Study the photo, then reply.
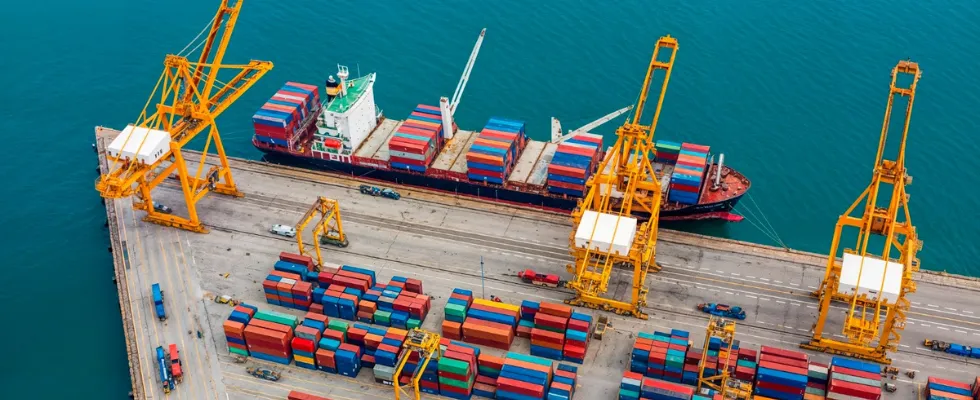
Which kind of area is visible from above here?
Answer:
port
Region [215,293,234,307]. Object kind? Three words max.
work vehicle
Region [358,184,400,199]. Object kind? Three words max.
vehicle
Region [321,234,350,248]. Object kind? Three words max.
vehicle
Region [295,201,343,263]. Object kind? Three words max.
container crane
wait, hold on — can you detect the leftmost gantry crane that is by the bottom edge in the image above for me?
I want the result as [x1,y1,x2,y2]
[396,321,447,400]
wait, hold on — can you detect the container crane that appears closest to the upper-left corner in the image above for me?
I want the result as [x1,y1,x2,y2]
[96,0,266,225]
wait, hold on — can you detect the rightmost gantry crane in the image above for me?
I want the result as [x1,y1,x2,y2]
[798,59,924,356]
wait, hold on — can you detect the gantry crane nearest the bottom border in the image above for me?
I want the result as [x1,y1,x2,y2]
[724,375,753,400]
